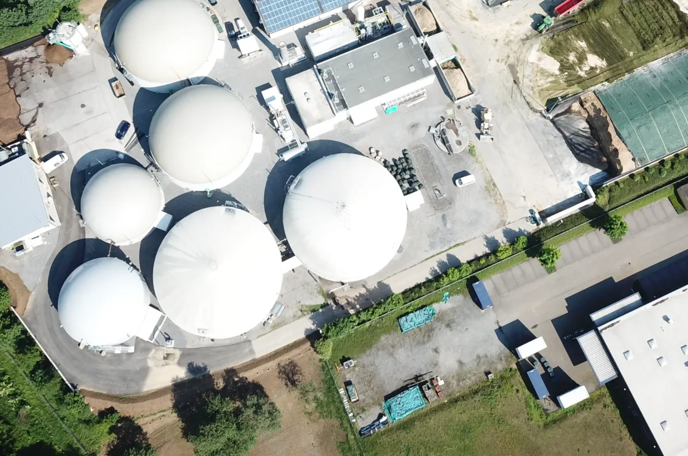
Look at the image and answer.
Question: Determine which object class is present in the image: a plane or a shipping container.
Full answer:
There is a shipping container in the scene.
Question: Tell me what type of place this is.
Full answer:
The area seen from above is an industrial area.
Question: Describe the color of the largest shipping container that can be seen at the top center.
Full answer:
The largest shipping container that can be seen at the top center is white.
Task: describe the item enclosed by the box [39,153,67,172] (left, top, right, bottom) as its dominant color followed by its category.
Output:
white vehicle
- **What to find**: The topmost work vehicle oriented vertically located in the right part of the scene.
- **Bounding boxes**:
[481,107,494,140]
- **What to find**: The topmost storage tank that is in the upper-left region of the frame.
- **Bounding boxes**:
[108,0,226,94]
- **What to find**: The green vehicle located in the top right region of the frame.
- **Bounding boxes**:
[537,14,554,33]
